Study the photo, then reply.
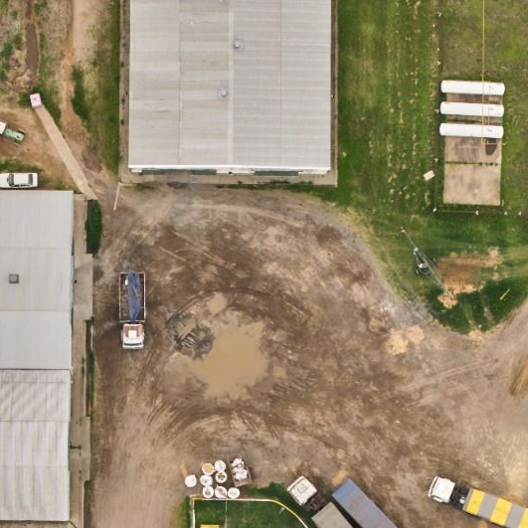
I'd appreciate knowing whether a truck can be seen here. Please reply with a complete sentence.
Yes, the photo shows a truck.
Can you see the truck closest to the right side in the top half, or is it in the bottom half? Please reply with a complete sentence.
The bottom half of the photo is where the truck closest to the right side is.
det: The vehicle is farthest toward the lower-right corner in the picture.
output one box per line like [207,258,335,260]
[429,474,528,528]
